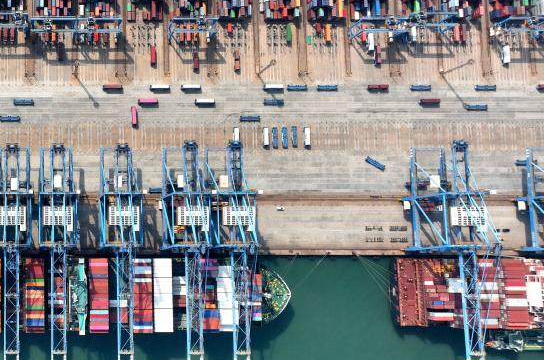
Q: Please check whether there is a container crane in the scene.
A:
Yes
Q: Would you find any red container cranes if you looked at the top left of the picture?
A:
No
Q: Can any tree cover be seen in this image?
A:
No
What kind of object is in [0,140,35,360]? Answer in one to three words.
container crane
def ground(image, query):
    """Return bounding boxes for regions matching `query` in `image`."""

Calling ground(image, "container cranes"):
[349,16,410,43]
[92,139,147,360]
[75,16,122,43]
[398,10,461,37]
[194,139,262,360]
[513,147,544,252]
[398,139,505,360]
[0,11,30,38]
[0,140,35,360]
[34,140,82,360]
[31,16,77,43]
[154,139,216,360]
[165,17,217,44]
